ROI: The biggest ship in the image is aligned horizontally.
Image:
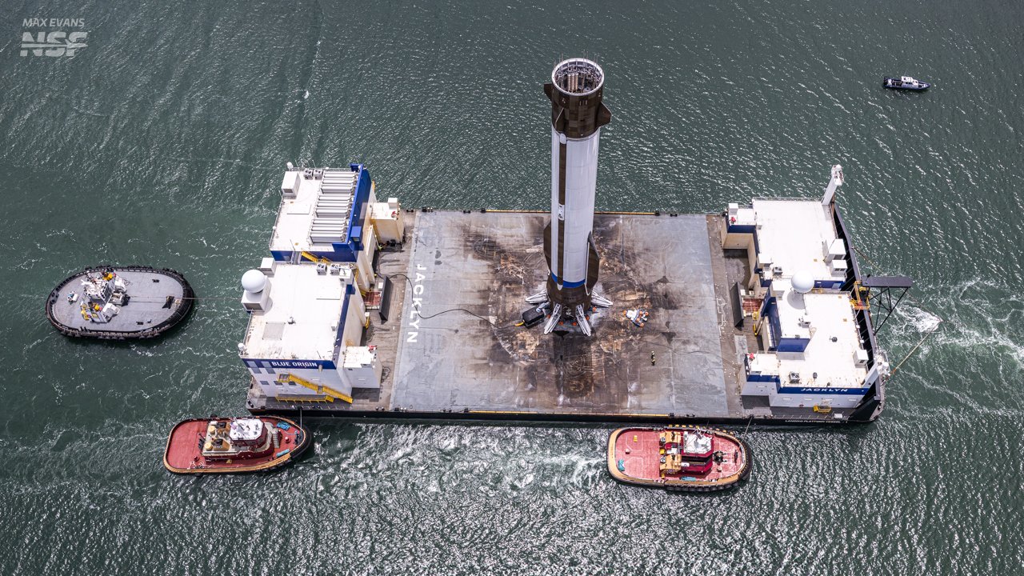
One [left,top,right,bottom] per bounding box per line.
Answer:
[238,158,912,429]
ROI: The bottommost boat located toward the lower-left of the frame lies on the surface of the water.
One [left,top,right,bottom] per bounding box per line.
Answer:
[162,415,313,478]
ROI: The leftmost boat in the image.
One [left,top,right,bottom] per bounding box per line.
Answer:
[44,263,195,344]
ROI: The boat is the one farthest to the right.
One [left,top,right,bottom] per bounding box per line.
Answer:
[882,69,930,89]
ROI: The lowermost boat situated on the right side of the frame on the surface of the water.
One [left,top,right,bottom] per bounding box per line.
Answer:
[608,423,754,494]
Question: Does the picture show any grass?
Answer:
No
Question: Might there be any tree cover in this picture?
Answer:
No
